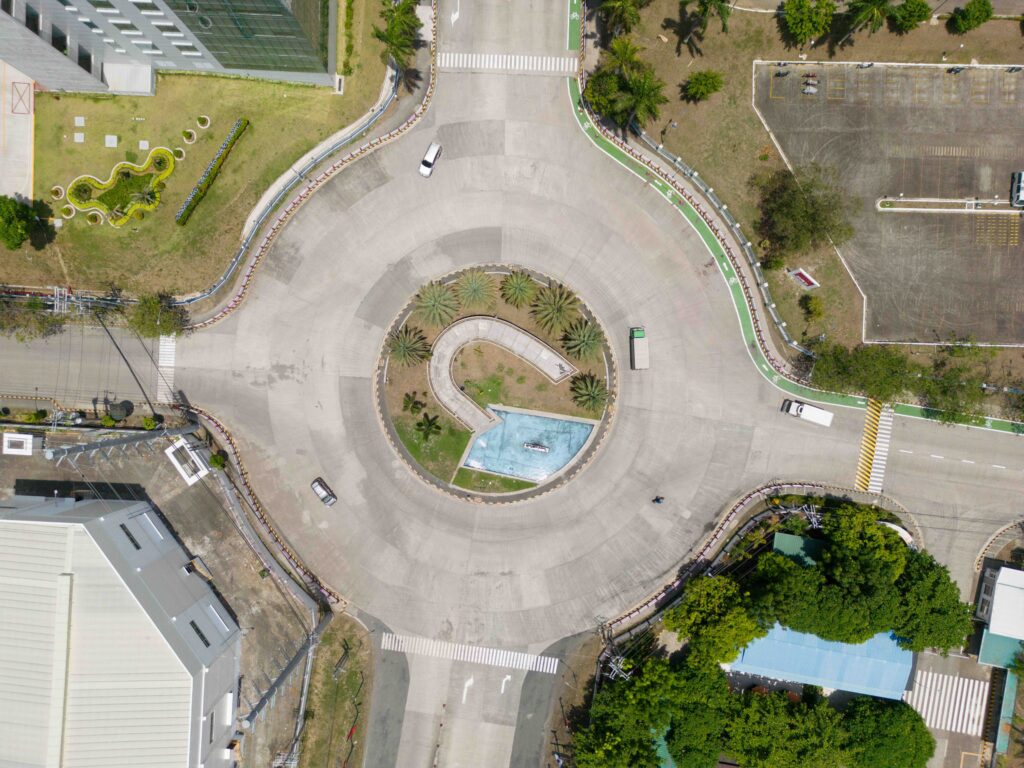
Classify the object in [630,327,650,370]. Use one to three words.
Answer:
vehicle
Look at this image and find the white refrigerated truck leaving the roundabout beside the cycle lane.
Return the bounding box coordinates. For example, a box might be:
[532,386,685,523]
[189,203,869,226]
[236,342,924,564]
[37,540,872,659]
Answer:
[779,397,836,425]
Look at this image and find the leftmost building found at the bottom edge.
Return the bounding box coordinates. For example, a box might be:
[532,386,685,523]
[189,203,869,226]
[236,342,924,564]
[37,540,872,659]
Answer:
[0,499,252,768]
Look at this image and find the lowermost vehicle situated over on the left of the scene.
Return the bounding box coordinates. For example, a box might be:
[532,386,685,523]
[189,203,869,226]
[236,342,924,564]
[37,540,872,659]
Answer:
[310,475,338,507]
